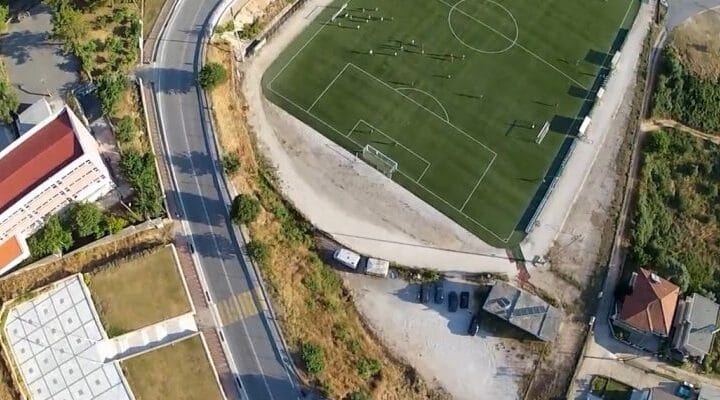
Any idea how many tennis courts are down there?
zero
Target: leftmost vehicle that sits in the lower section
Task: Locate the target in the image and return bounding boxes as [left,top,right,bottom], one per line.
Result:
[335,249,361,269]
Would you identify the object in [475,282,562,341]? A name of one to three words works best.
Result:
shed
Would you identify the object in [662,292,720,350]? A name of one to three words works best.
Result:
house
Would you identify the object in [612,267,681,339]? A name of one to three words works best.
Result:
house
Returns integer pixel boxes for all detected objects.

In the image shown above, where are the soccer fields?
[262,0,641,262]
